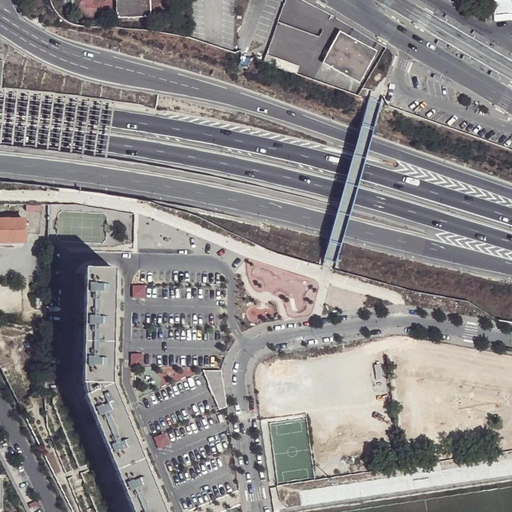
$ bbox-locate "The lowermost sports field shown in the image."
[286,460,512,512]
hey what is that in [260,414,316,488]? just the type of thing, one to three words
soccer field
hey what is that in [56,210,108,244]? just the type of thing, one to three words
sports court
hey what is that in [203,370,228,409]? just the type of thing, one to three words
building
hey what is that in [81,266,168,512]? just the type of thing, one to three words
building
